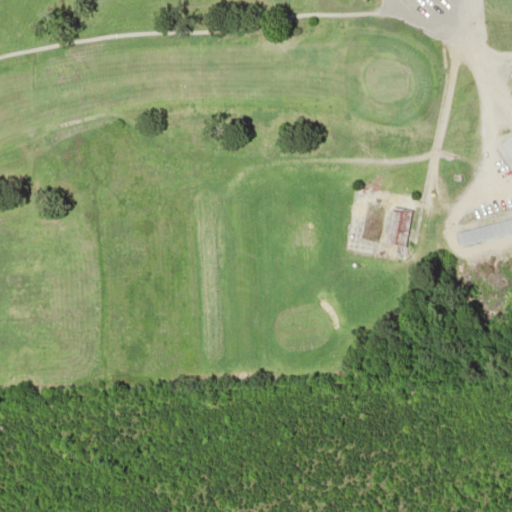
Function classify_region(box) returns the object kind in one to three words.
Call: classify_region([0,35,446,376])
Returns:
golf course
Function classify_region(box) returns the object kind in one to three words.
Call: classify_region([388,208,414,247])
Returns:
barn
